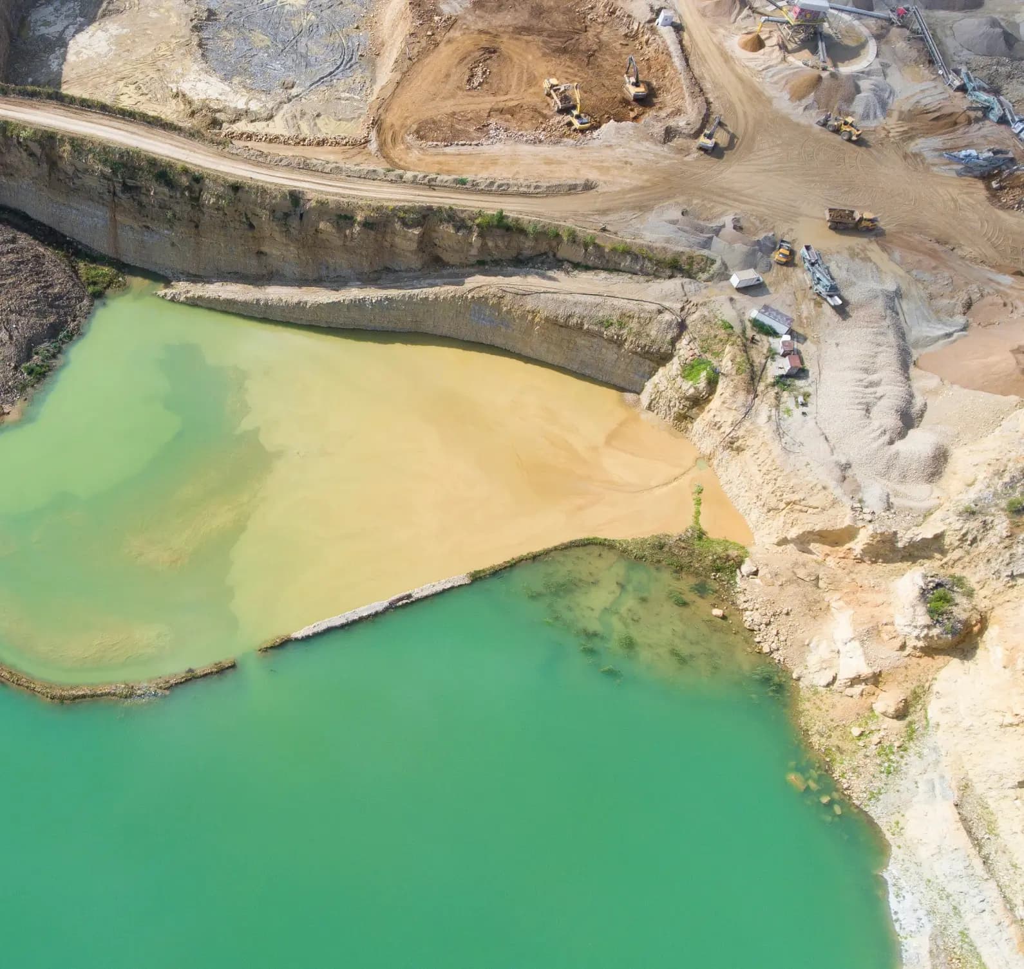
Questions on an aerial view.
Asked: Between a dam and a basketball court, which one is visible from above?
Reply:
dam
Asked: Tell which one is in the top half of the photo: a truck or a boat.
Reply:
truck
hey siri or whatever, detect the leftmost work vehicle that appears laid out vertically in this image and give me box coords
[571,74,597,130]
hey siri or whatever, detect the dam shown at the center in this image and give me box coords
[257,481,761,652]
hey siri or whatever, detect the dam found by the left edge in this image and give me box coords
[0,658,240,702]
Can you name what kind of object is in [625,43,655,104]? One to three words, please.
work vehicle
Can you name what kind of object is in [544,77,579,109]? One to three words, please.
truck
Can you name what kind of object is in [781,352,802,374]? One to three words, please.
shed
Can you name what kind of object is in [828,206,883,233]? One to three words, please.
truck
